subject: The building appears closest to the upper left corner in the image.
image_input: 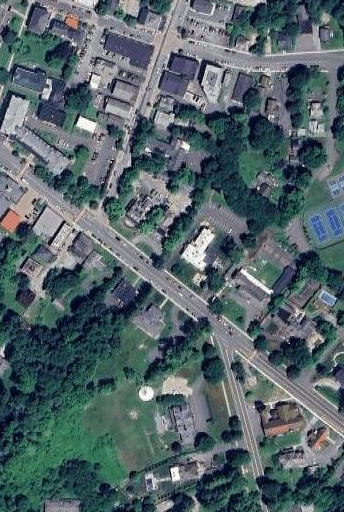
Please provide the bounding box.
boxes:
[26,5,50,32]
